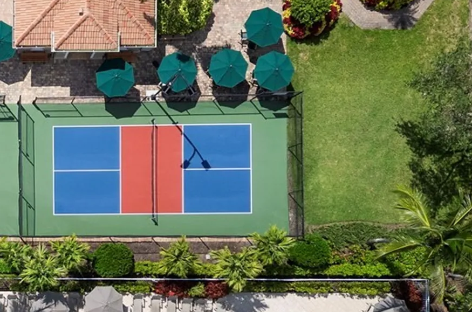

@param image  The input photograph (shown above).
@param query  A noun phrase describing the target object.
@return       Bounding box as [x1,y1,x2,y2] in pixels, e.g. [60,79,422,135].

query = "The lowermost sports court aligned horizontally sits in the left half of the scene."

[19,101,289,235]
